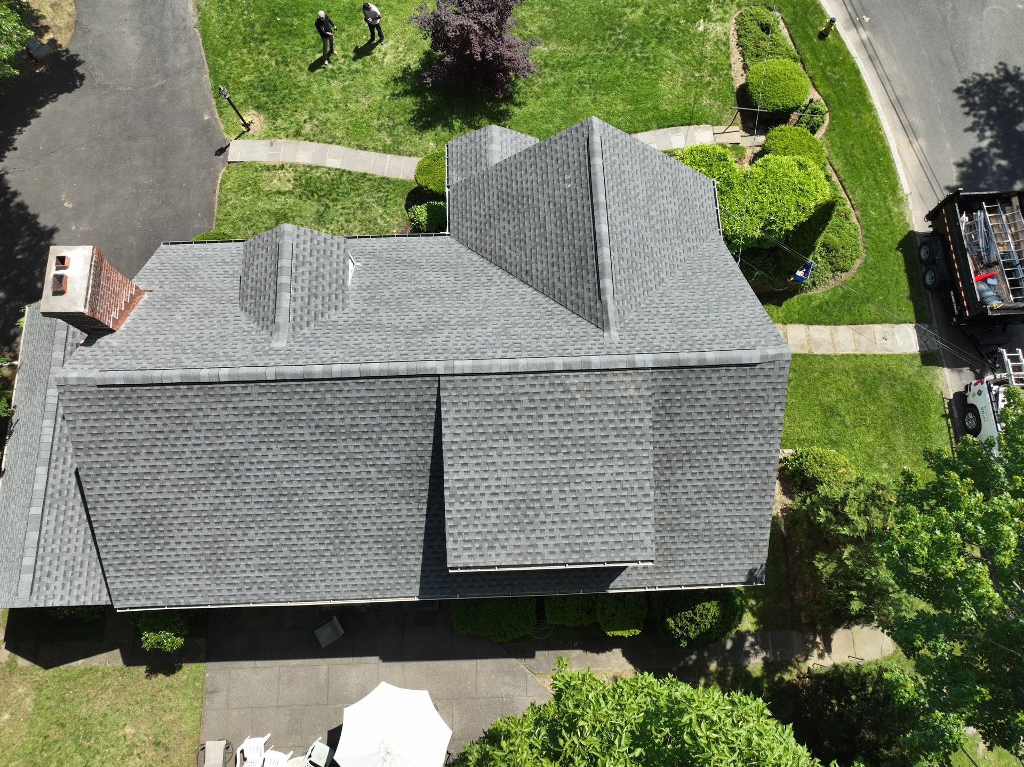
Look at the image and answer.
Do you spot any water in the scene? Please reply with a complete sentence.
No, there is no water in the image.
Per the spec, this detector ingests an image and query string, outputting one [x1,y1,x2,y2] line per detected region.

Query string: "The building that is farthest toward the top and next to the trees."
[0,114,793,609]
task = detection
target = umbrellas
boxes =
[329,677,455,767]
